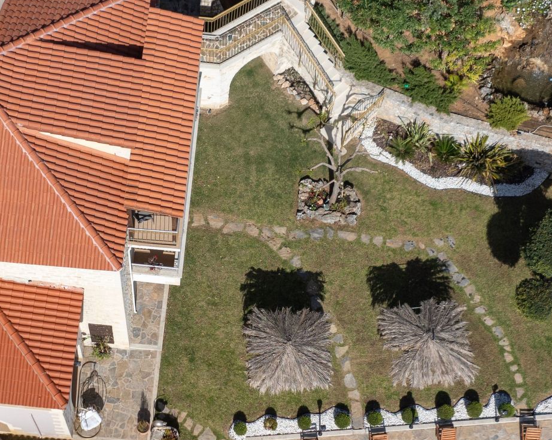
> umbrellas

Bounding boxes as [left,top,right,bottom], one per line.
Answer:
[369,293,478,398]
[235,301,340,398]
